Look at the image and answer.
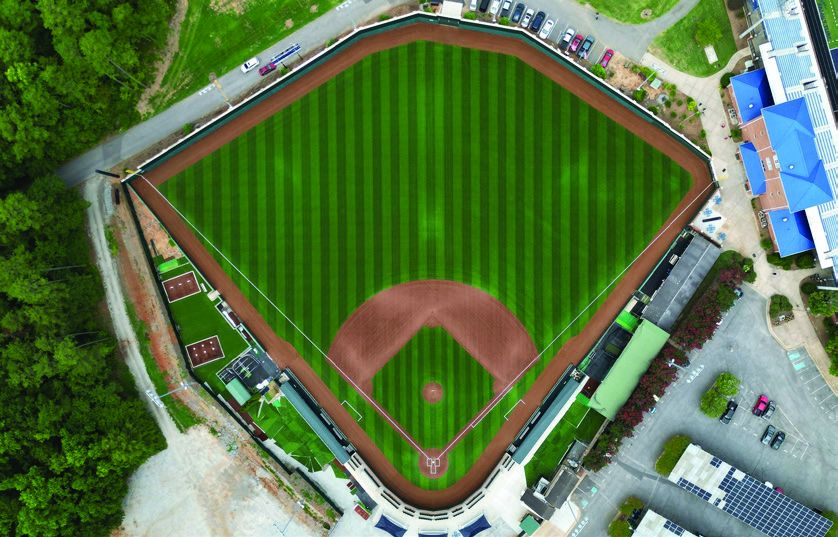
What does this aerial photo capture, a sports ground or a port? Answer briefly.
sports ground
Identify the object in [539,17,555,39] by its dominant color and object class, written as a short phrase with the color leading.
white car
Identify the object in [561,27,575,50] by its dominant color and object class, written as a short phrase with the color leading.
white vehicle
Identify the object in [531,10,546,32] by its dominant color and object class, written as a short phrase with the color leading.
blue car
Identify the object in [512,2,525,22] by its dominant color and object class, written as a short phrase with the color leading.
blue vehicle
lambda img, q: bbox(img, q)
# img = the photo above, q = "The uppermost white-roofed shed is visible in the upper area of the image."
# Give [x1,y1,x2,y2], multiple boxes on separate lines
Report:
[441,1,463,18]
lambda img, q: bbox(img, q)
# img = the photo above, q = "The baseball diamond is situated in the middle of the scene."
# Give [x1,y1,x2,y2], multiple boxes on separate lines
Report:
[128,23,717,510]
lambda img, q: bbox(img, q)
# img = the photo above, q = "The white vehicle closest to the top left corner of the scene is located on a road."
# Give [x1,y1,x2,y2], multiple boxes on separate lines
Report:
[242,56,260,70]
